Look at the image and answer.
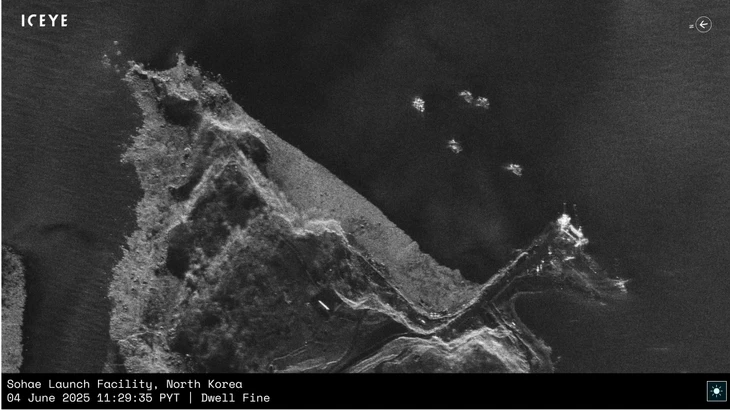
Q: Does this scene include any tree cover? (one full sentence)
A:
No, no tree cover is visible.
